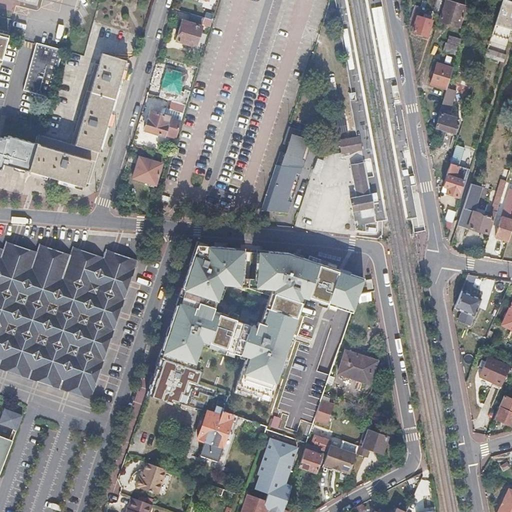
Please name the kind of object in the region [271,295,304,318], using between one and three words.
building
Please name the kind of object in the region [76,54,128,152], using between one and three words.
building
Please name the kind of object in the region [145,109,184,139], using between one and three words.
house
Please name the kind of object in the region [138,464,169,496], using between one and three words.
house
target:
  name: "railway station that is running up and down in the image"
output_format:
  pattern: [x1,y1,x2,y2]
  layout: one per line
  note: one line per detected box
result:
[337,0,426,232]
